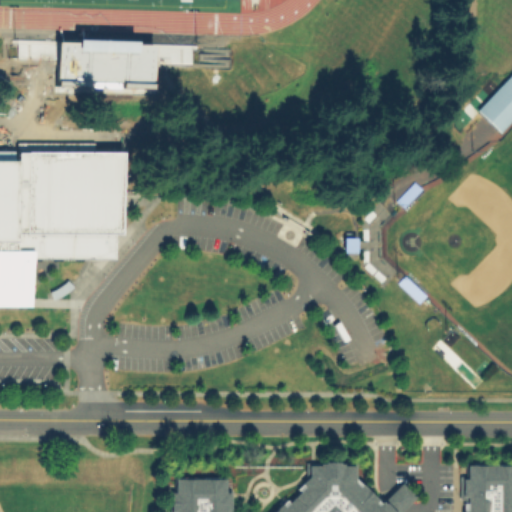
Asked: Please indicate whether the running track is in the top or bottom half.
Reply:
top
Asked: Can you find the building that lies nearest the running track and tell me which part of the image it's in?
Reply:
top left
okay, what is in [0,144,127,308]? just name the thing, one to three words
building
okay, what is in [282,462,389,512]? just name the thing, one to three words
building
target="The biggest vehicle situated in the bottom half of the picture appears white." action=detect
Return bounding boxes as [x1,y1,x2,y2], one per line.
[329,314,354,344]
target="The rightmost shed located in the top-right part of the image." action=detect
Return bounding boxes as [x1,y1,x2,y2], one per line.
[478,72,512,134]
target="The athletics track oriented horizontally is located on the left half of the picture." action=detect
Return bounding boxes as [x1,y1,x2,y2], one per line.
[0,0,317,35]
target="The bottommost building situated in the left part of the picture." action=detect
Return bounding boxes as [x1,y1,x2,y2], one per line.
[173,479,234,512]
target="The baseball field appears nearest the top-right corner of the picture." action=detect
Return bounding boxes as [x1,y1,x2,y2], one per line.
[400,173,512,308]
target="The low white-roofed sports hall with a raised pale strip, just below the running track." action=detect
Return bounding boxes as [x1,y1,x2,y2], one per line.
[11,40,197,95]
